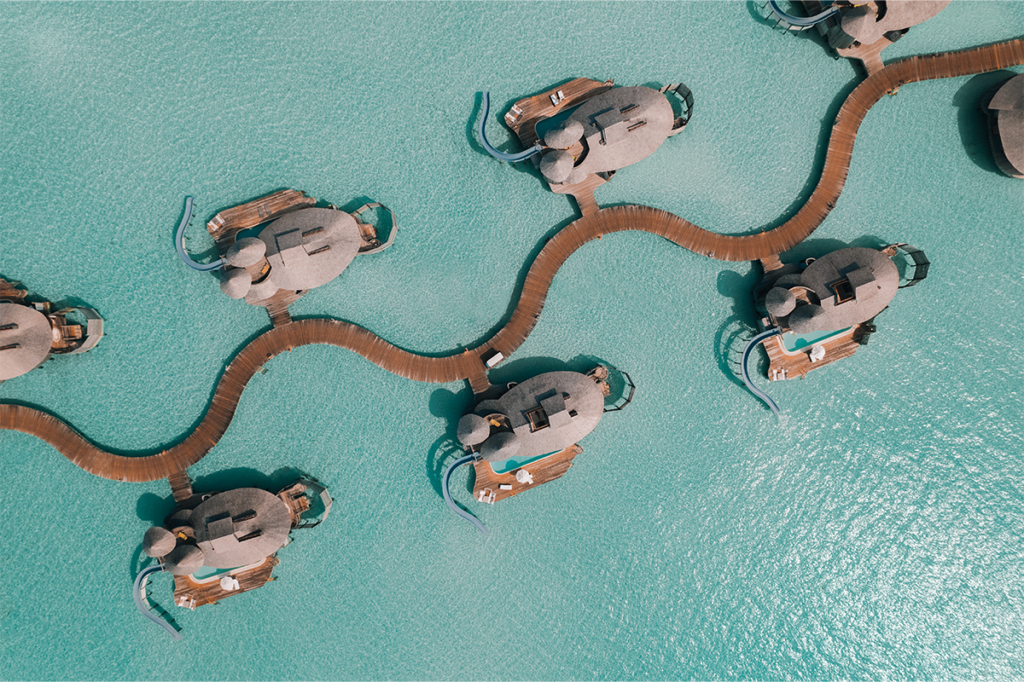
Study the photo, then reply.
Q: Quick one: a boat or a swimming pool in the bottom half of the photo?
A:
swimming pool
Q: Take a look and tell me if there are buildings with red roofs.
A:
No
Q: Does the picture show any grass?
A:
No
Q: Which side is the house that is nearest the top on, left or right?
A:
right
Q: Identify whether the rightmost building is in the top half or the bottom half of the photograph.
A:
top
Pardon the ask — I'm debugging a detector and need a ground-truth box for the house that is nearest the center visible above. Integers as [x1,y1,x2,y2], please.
[458,367,615,503]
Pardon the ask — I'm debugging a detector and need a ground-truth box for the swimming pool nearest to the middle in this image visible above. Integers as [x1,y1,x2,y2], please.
[488,447,568,474]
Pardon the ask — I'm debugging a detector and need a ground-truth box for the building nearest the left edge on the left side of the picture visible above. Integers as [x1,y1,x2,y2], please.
[0,287,86,388]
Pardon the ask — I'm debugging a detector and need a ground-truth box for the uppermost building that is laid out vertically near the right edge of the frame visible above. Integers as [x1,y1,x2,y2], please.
[973,68,1024,181]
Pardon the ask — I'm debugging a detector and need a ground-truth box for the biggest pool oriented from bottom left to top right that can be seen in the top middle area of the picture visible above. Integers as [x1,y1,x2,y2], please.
[534,103,587,144]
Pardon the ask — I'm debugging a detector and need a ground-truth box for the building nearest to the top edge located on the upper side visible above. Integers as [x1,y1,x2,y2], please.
[798,0,955,78]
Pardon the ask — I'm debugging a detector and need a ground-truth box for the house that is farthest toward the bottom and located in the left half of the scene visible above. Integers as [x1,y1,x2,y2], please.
[141,471,318,610]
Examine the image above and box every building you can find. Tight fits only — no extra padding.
[798,0,955,78]
[0,287,86,388]
[973,68,1024,181]
[749,248,902,383]
[503,79,682,221]
[141,471,318,610]
[202,191,383,330]
[458,367,615,503]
